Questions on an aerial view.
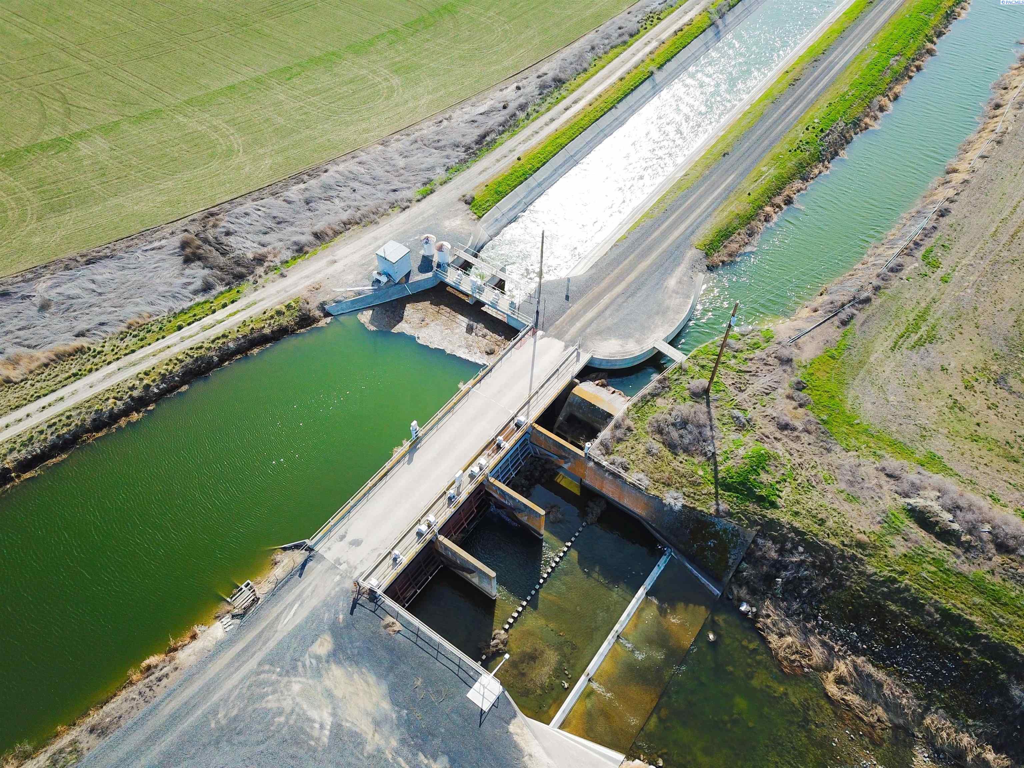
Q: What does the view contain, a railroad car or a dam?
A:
dam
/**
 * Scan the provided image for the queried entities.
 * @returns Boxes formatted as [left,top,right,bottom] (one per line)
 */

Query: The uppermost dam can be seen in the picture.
[551,380,627,454]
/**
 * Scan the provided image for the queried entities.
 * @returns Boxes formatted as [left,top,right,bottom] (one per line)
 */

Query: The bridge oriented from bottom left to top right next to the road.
[309,325,596,596]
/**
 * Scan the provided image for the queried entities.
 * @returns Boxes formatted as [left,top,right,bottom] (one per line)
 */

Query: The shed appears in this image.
[373,239,411,282]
